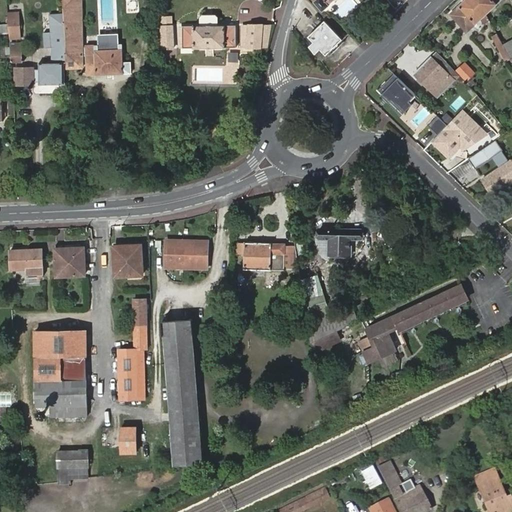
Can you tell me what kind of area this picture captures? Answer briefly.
residential area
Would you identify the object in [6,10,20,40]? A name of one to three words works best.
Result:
shed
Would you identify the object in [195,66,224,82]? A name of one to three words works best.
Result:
swimming pool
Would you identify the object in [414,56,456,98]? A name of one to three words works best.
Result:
house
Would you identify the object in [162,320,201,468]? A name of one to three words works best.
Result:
building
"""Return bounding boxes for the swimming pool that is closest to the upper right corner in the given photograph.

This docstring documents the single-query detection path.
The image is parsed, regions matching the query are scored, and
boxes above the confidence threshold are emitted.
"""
[448,95,466,113]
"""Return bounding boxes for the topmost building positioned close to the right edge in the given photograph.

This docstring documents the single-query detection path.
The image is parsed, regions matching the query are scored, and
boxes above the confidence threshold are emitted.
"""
[448,0,496,33]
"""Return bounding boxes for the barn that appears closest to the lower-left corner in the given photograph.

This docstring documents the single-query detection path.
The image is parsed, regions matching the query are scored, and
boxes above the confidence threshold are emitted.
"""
[55,450,88,485]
